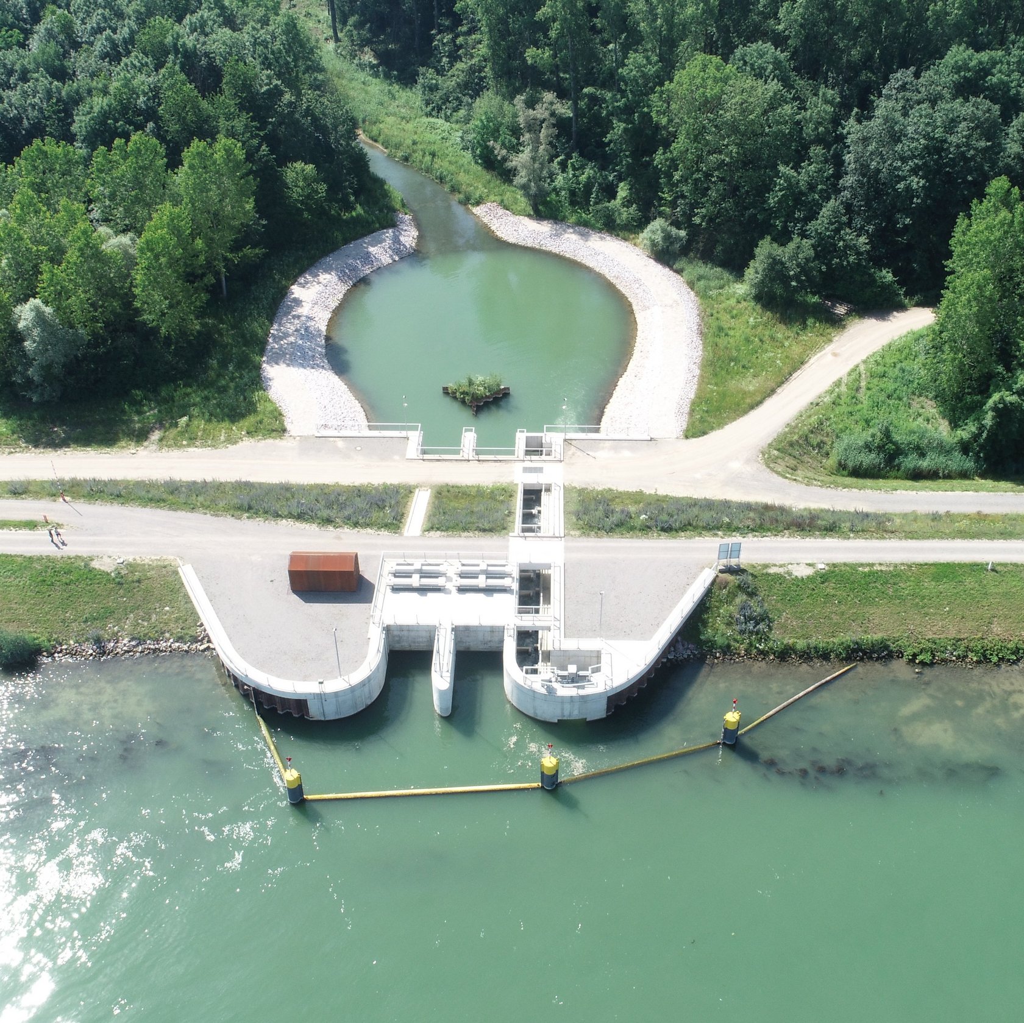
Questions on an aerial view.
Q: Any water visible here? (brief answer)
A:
Yes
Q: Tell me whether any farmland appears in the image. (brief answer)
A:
No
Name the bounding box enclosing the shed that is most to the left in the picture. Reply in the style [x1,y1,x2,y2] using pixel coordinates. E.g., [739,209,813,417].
[288,551,359,591]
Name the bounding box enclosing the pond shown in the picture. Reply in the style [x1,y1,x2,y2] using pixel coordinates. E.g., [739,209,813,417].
[326,77,631,454]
